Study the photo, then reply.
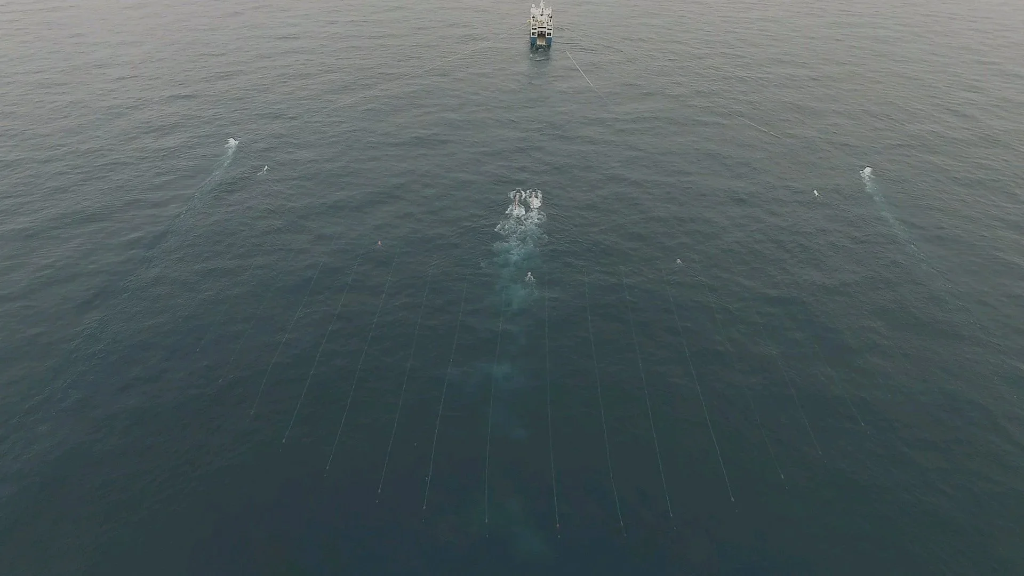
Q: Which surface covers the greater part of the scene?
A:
water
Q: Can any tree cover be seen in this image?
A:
No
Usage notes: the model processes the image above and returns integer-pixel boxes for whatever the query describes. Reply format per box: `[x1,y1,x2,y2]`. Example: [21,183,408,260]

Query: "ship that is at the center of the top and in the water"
[527,0,554,45]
